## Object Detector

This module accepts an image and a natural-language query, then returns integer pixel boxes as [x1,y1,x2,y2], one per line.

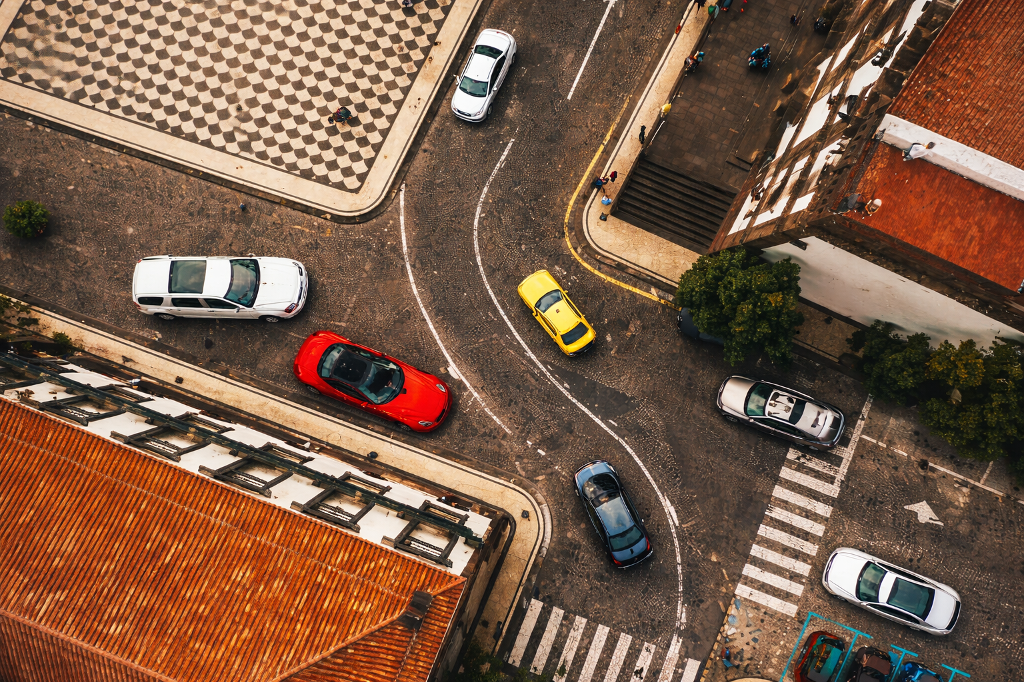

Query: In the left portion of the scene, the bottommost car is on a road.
[299,332,452,428]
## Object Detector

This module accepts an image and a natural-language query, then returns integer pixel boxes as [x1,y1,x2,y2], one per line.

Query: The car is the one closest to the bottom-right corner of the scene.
[885,656,936,682]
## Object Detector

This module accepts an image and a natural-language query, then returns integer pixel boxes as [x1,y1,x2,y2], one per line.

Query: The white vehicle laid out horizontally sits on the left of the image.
[128,252,307,322]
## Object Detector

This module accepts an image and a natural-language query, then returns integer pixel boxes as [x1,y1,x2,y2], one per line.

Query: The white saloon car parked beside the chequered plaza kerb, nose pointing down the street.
[454,29,517,126]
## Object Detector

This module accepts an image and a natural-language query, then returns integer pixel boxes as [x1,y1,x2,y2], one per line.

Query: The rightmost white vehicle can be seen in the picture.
[818,544,964,638]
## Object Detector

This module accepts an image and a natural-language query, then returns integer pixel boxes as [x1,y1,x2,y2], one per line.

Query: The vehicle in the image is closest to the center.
[521,271,597,357]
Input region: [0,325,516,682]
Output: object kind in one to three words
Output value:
house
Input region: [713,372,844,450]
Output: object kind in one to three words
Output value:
car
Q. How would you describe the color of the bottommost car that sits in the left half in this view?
red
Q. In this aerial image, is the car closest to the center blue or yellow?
yellow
